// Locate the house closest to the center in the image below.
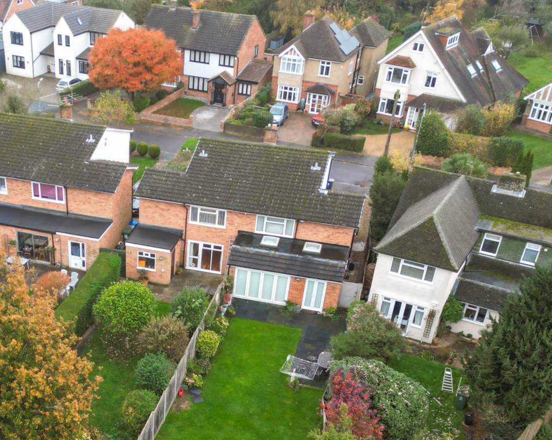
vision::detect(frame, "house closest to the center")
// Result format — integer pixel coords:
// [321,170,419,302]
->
[125,124,366,309]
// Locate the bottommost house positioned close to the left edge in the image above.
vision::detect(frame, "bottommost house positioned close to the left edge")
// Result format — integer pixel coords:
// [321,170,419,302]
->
[0,96,135,269]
